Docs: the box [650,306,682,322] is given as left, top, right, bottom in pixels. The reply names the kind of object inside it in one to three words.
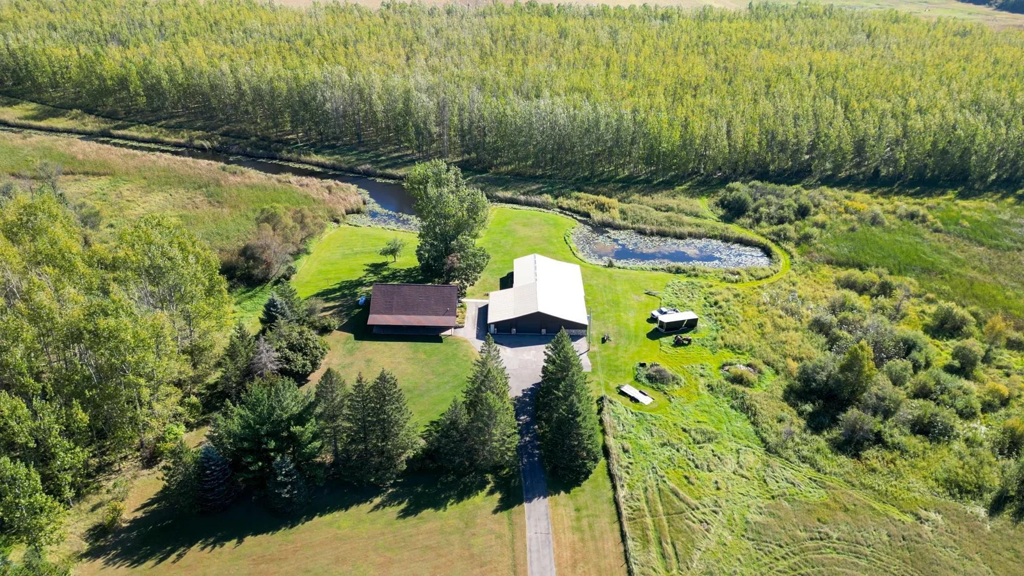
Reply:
vehicle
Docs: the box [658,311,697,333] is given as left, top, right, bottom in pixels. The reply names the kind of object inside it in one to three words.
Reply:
trailer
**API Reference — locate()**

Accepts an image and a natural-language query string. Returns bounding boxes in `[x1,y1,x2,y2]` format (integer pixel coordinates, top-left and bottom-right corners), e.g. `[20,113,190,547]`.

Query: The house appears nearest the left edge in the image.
[366,282,460,335]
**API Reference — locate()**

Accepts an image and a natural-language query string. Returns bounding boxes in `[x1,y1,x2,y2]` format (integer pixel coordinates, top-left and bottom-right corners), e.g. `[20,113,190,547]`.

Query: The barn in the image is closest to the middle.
[488,253,589,336]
